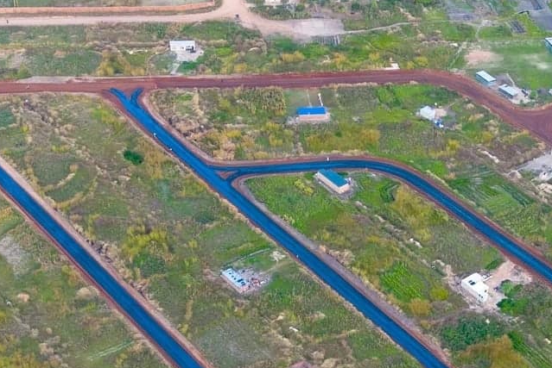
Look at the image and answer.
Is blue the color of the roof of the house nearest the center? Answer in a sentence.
Yes, the roof of the house nearest the center is indeed blue.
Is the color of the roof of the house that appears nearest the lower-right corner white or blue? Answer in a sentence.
The color of the roof of the house that appears nearest the lower-right corner is white.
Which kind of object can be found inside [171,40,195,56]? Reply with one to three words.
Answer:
house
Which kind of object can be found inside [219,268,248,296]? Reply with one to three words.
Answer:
house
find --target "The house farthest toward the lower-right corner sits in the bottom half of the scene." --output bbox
[458,276,489,305]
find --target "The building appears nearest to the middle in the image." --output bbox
[319,164,349,192]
